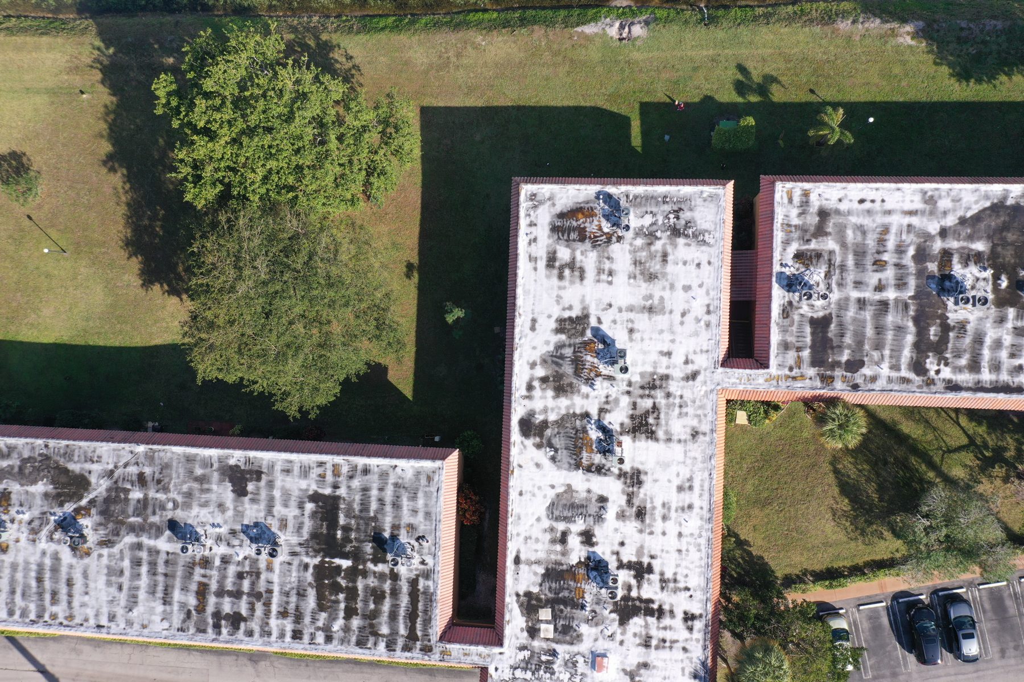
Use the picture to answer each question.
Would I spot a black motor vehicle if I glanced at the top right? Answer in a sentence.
No, looking at the top right, there is no black motor vehicle.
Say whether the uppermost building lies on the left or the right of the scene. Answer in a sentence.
It is on the right.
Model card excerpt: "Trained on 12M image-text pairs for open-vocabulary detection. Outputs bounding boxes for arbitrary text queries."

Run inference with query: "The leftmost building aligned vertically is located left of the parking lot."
[477,175,737,682]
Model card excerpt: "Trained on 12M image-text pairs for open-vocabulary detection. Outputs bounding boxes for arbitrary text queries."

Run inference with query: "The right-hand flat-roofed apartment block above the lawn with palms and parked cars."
[718,172,1024,413]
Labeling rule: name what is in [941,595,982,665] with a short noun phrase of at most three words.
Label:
car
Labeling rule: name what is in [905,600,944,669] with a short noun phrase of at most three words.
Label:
car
